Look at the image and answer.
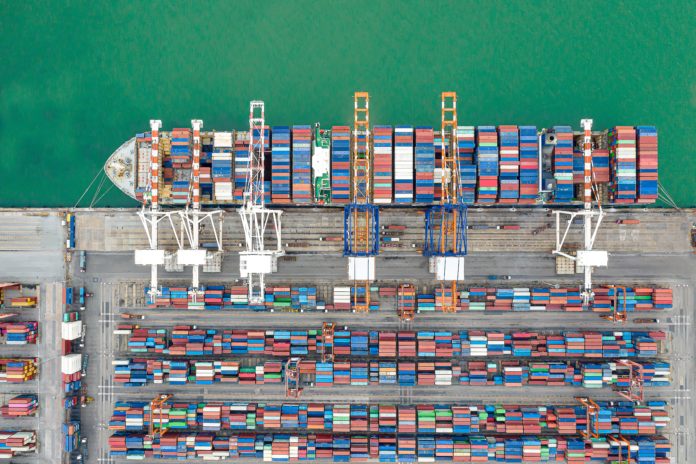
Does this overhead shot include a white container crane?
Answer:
Yes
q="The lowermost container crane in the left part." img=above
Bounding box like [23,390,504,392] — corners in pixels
[150,389,178,438]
